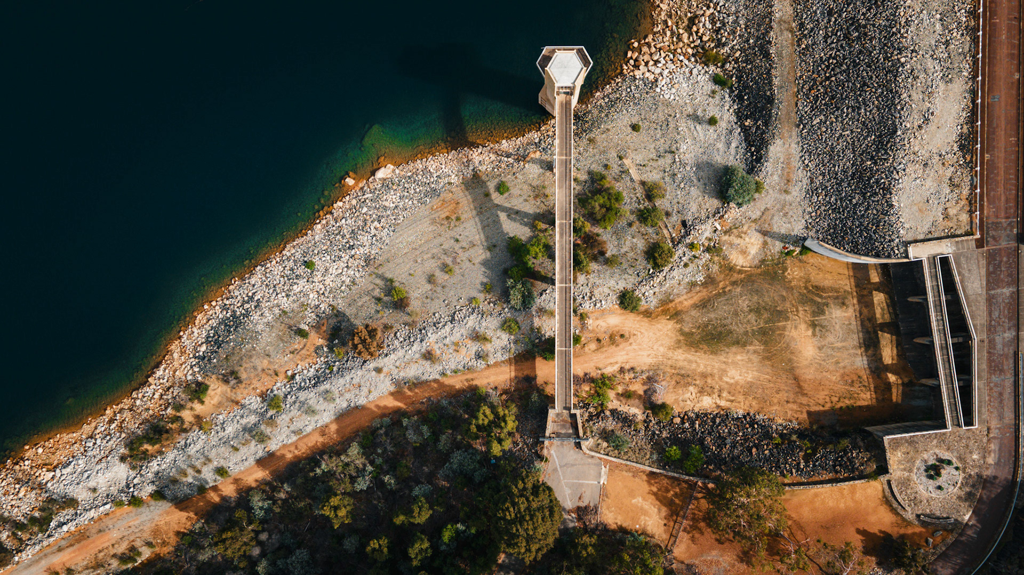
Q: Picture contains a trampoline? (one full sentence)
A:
No, I can see no trampoline in this picture.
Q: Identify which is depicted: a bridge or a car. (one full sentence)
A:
It is a bridge that can be seen here.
